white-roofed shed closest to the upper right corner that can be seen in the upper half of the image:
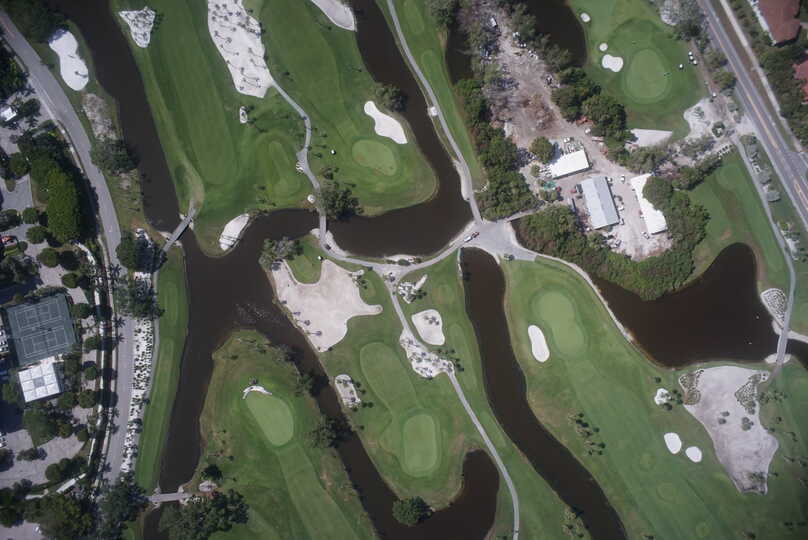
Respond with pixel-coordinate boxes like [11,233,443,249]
[628,174,668,234]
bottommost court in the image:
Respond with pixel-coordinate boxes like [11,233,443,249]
[13,321,77,363]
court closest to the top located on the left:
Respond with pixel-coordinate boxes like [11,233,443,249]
[6,294,70,336]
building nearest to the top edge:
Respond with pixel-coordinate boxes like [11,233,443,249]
[751,0,801,47]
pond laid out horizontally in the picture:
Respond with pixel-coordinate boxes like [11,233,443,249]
[513,231,808,370]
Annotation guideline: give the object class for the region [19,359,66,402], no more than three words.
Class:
building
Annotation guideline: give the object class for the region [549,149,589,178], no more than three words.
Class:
building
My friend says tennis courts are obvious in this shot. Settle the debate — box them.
[13,321,77,363]
[6,294,70,336]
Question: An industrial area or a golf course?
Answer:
golf course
